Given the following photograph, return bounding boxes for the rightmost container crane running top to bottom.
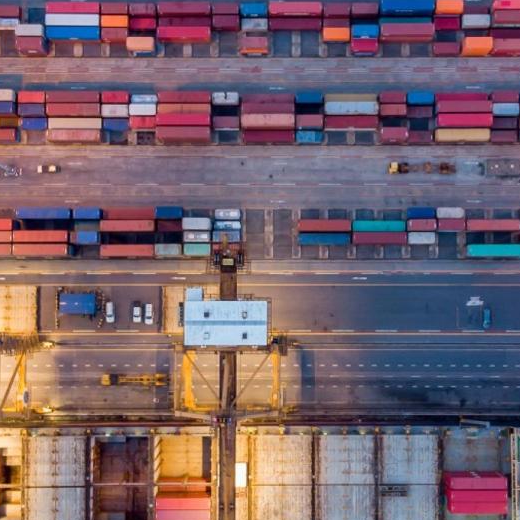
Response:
[167,231,300,520]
